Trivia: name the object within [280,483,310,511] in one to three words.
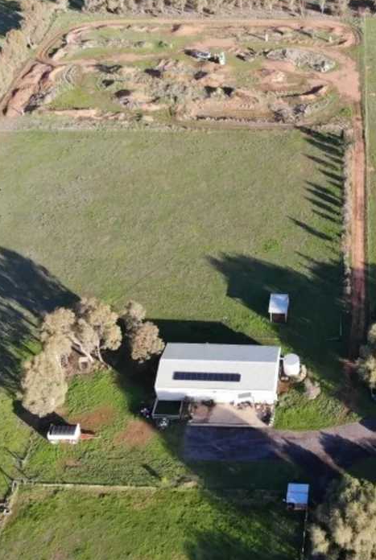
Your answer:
shed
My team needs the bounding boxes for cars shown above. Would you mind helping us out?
[197,49,214,58]
[217,53,227,63]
